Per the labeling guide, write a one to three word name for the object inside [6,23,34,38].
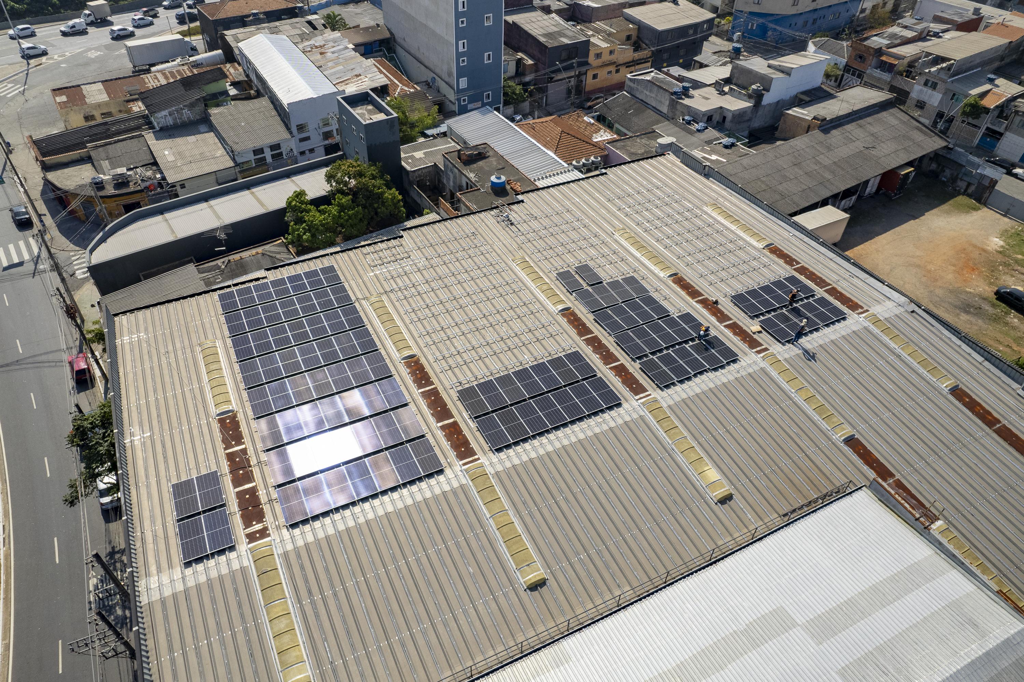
car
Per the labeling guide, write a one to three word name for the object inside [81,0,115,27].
truck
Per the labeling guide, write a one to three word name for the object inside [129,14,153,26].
vehicle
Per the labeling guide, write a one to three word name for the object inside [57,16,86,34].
vehicle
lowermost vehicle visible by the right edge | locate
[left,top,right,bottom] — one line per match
[993,283,1024,314]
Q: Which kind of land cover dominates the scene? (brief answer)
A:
buildings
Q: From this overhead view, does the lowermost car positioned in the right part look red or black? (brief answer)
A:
black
